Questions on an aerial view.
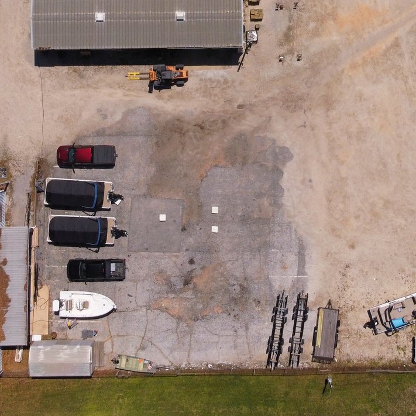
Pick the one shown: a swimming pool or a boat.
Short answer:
boat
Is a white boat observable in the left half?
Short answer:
Yes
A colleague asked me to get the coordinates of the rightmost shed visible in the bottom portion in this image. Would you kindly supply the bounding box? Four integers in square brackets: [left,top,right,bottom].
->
[29,335,96,376]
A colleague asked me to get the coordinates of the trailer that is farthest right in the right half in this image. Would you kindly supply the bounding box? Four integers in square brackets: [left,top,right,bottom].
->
[312,294,338,366]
